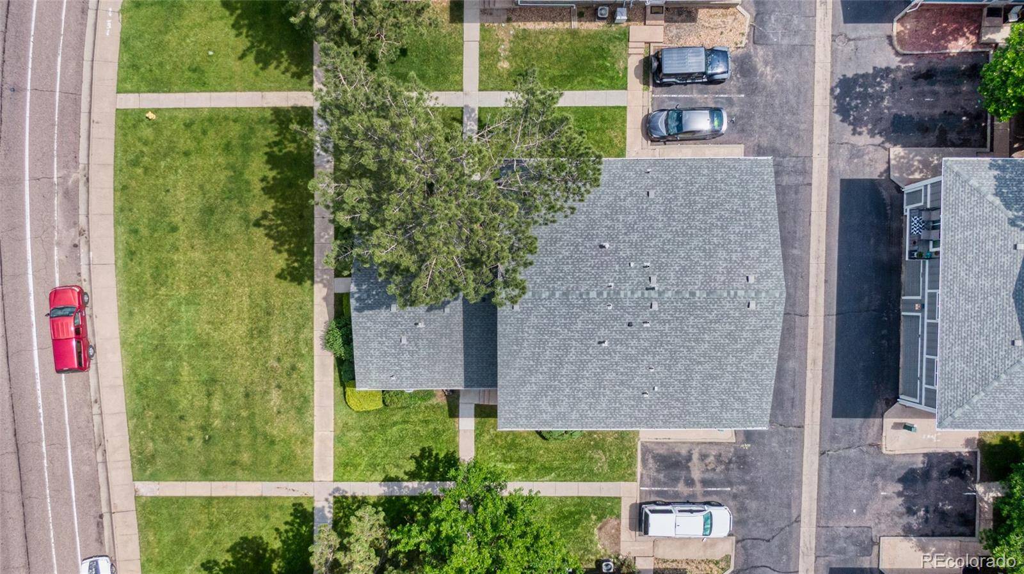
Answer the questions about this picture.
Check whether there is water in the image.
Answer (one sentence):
No, the picture contains no water.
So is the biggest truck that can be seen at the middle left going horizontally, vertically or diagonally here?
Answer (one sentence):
From this overhead view, the biggest truck that can be seen at the middle left appears to run vertically.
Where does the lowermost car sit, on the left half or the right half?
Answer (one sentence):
The lowermost car is on the left side of the image.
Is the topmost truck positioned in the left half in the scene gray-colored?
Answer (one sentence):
No, from above the topmost truck positioned in the left half looks red.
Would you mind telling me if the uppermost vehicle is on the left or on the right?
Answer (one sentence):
The uppermost vehicle sits on the right side.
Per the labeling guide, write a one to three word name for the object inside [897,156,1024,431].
building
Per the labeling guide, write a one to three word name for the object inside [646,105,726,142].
car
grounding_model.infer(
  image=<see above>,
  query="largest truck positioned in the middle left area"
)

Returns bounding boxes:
[47,282,94,374]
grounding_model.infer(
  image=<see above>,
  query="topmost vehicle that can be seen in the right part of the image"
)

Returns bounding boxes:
[650,47,729,84]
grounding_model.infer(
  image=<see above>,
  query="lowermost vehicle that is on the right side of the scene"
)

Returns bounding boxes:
[636,501,731,540]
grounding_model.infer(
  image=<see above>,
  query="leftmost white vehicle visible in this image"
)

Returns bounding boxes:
[83,552,117,574]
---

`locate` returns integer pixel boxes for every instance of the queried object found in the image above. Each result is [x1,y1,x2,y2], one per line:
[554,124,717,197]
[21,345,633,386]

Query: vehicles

[636,501,731,540]
[650,47,729,84]
[646,105,726,142]
[83,552,117,574]
[47,282,94,374]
